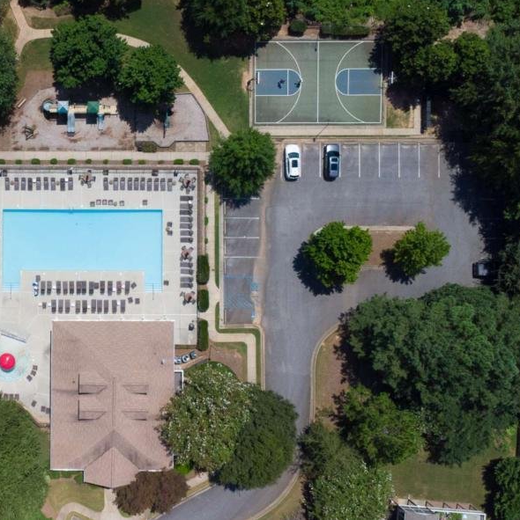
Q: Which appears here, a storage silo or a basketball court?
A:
basketball court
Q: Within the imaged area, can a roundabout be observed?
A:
No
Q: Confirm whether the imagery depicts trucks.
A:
No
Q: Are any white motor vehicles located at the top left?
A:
No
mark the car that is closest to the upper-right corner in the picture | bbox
[323,143,340,178]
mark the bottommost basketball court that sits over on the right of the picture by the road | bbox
[254,38,385,126]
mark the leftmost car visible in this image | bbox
[284,144,301,181]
